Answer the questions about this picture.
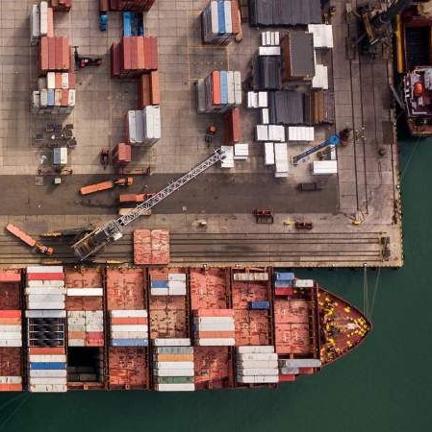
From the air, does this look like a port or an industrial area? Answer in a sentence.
This looks like a port.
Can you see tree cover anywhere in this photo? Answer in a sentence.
No, there is no tree cover in the image.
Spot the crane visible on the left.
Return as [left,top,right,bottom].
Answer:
[43,145,230,266]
